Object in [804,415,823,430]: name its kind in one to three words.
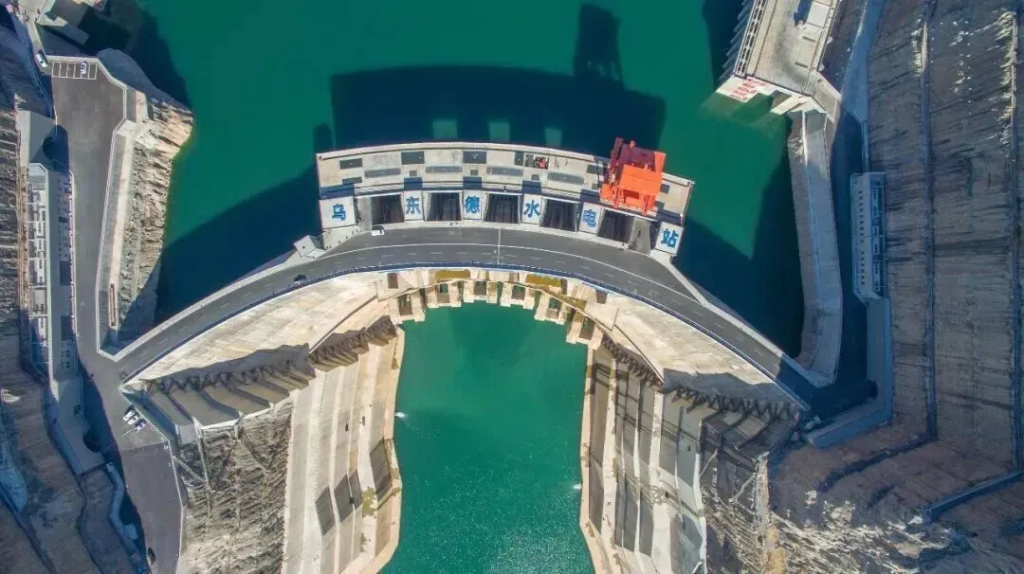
vehicle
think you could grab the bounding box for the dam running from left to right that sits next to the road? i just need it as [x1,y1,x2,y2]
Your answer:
[111,142,815,410]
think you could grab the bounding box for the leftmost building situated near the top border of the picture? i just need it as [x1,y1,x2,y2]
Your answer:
[54,0,147,46]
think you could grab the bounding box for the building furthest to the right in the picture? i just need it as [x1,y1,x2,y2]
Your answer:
[850,167,890,291]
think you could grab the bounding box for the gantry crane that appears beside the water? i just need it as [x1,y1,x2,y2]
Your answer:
[599,139,668,217]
